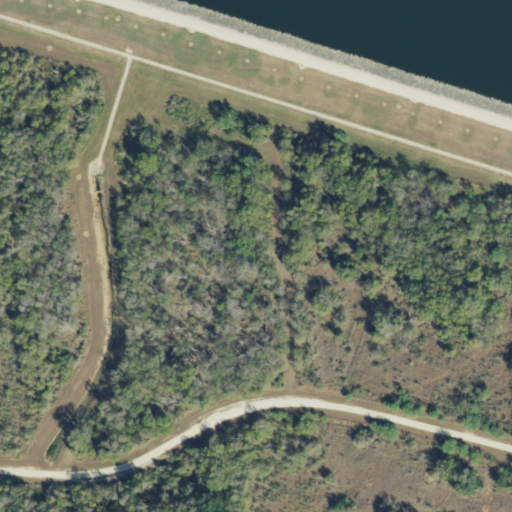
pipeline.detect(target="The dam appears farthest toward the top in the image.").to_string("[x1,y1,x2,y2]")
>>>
[0,0,512,166]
